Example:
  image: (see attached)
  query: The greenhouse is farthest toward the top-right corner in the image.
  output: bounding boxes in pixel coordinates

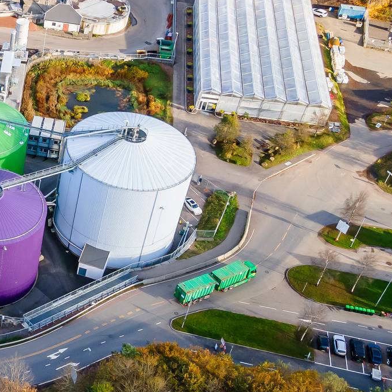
[195,0,329,119]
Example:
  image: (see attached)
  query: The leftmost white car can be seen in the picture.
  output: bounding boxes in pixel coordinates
[184,196,204,213]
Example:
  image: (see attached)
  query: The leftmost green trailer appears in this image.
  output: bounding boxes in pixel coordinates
[178,276,221,309]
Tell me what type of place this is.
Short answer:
industrial area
